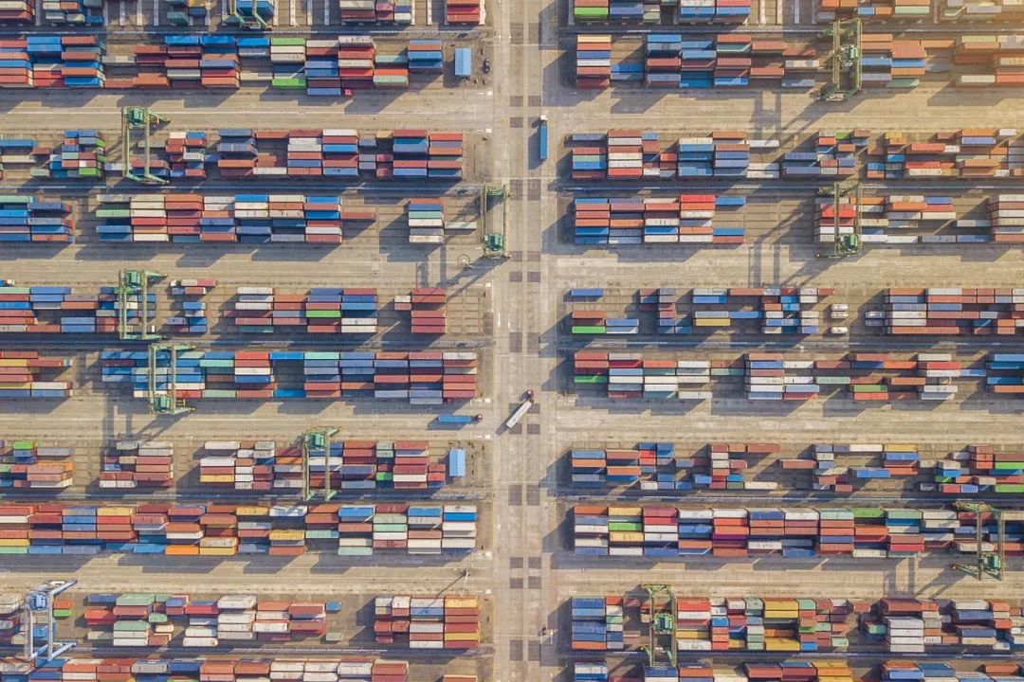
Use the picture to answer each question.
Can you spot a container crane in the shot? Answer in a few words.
Yes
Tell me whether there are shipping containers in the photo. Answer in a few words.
Yes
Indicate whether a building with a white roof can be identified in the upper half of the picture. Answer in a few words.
No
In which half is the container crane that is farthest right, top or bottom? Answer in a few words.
bottom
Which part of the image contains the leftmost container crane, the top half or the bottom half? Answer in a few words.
bottom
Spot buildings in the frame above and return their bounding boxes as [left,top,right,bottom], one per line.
[455,47,471,77]
[449,448,466,476]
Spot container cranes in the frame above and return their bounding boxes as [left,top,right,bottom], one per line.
[478,184,516,258]
[817,20,864,107]
[639,583,678,666]
[228,0,275,33]
[302,426,346,502]
[954,504,1007,584]
[147,345,198,418]
[816,184,863,258]
[118,266,169,341]
[120,106,172,188]
[23,574,78,660]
